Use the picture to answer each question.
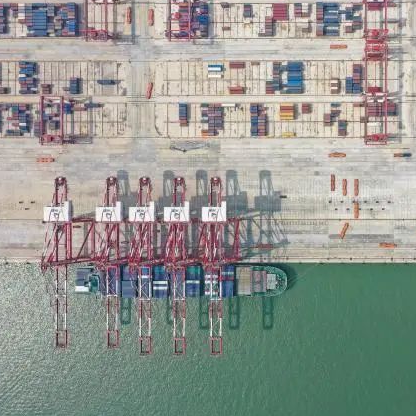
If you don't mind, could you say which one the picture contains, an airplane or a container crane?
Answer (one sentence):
I can see a container crane in this picture.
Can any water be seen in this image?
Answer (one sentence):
Yes, there is water in the image.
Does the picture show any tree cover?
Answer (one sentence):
No, no tree cover is visible.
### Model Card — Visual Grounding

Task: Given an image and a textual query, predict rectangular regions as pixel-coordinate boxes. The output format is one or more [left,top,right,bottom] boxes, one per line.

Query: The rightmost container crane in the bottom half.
[201,174,243,355]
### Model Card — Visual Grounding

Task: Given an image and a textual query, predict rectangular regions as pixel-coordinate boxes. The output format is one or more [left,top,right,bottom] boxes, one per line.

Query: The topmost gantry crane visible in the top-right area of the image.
[362,0,388,42]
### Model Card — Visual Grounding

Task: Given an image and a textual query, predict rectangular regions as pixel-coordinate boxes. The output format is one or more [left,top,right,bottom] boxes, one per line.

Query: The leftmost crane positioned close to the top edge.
[85,0,121,45]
